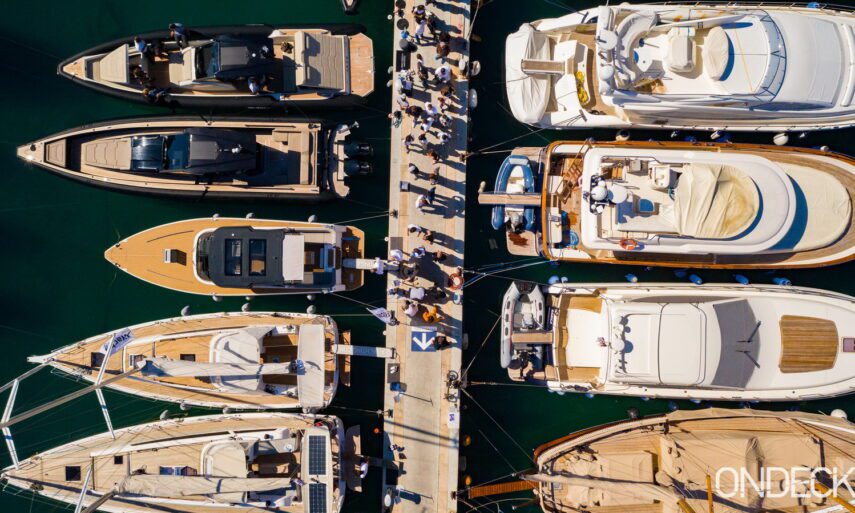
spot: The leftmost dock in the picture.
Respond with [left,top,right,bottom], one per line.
[383,0,471,513]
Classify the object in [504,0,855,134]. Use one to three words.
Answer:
boat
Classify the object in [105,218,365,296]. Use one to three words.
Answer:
boat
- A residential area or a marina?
marina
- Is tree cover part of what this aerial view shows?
No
